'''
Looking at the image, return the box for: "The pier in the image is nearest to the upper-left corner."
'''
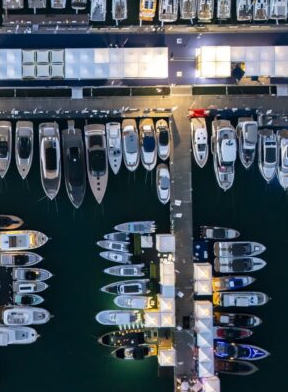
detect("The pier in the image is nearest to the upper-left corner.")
[2,12,89,25]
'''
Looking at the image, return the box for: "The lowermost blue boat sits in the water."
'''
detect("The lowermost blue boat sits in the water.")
[214,339,280,362]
